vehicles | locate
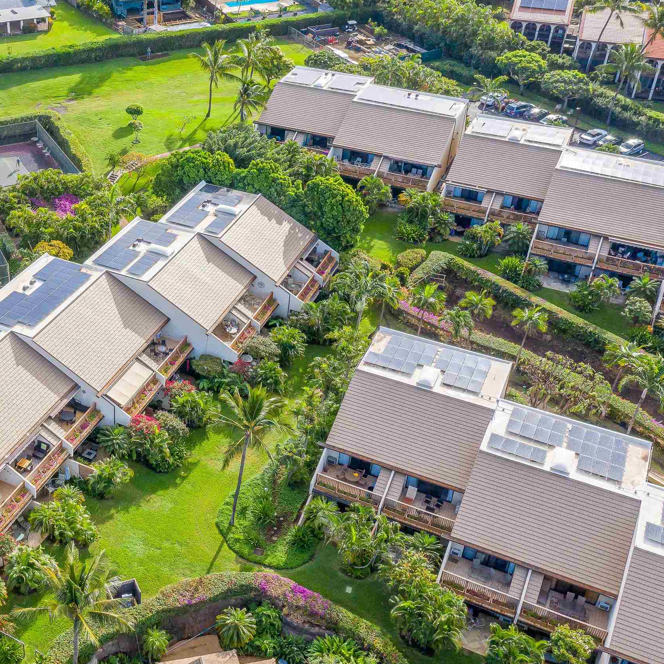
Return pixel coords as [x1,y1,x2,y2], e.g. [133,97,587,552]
[594,135,625,150]
[504,99,533,116]
[344,18,359,31]
[479,92,504,104]
[484,98,511,112]
[576,129,607,144]
[539,114,567,124]
[615,137,645,154]
[521,107,550,121]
